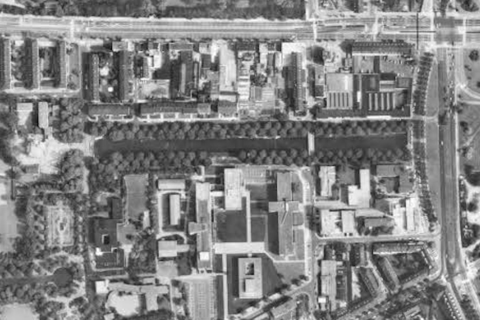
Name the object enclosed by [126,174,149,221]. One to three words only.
sports field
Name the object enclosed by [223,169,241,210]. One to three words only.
building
